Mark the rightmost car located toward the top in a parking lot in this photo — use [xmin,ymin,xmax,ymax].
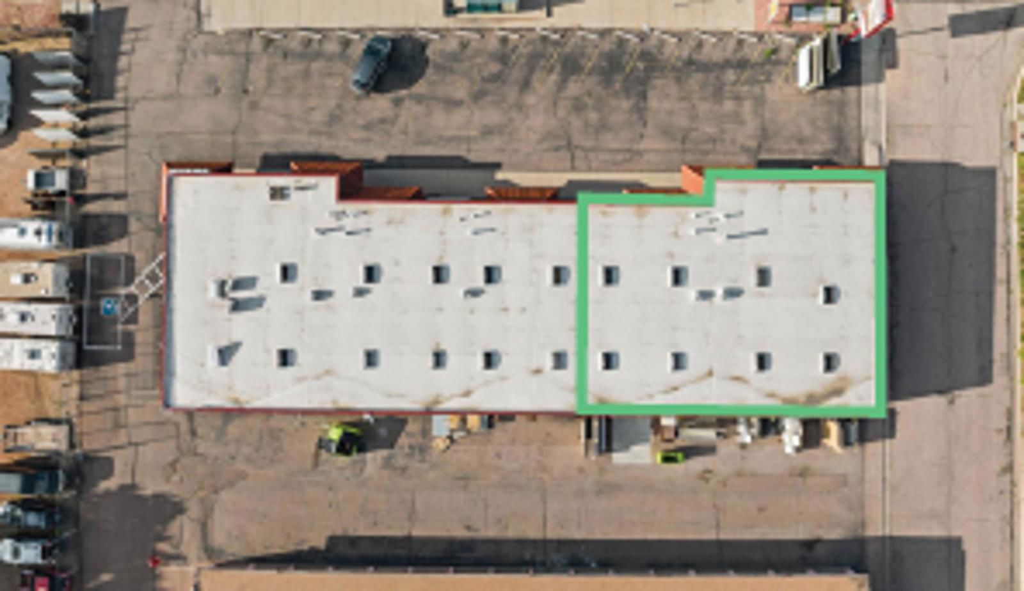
[353,32,397,95]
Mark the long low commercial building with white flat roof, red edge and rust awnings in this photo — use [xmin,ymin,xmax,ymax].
[161,160,886,419]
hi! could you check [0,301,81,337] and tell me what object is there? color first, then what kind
white trailer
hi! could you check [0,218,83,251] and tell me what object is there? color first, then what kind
white trailer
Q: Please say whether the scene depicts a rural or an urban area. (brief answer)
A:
urban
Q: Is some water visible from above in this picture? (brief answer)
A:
No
